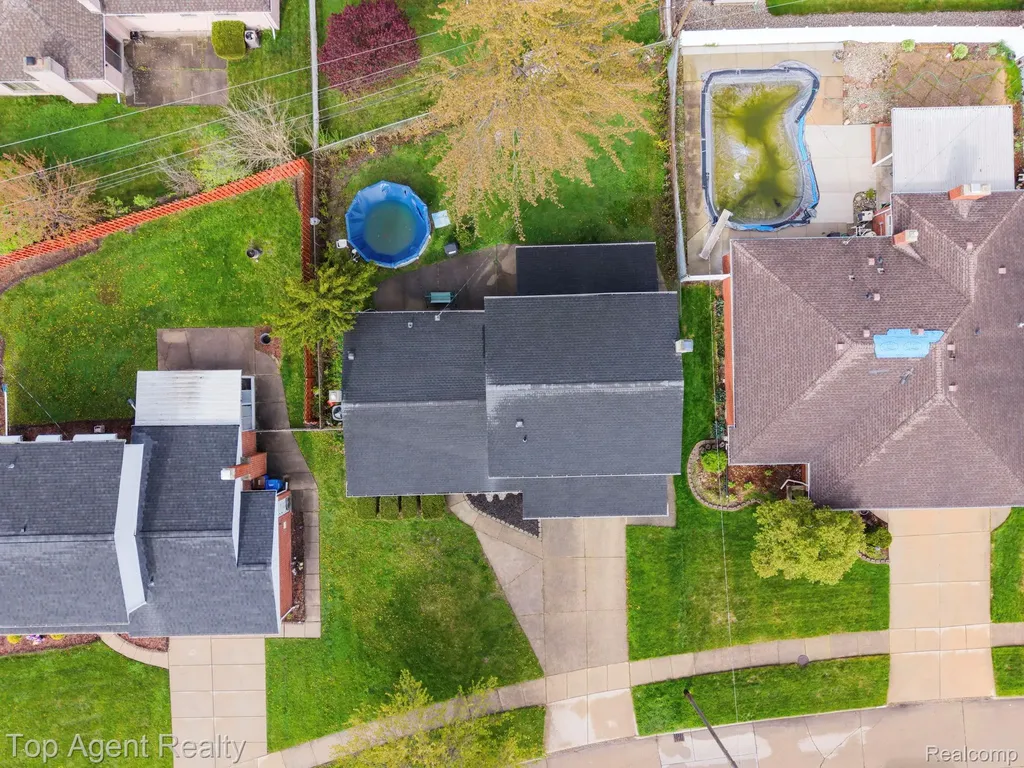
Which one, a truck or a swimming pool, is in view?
swimming pool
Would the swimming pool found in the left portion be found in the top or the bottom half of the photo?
top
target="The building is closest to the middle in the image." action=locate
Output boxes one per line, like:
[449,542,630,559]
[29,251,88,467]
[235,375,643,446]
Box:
[343,241,693,519]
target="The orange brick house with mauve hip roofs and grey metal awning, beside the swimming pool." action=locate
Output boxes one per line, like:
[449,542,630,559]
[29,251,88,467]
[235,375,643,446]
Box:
[718,104,1024,510]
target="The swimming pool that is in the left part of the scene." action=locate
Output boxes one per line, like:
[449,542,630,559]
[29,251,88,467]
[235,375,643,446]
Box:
[344,178,434,272]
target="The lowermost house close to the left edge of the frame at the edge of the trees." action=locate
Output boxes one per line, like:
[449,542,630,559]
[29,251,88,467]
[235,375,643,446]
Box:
[0,370,300,637]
